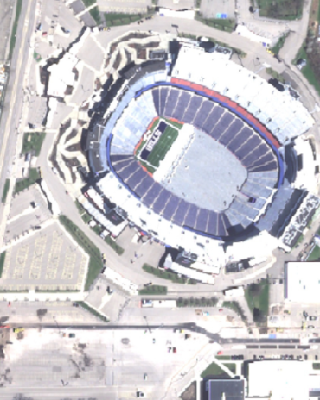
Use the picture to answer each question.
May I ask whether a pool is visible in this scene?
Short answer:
No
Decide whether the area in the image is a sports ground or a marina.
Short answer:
sports ground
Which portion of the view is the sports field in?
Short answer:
center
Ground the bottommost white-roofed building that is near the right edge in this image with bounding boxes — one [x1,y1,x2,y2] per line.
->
[244,361,320,400]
